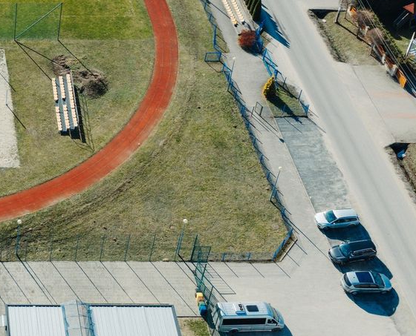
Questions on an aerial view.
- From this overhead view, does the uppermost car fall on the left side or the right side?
right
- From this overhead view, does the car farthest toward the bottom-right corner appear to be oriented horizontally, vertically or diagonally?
horizontally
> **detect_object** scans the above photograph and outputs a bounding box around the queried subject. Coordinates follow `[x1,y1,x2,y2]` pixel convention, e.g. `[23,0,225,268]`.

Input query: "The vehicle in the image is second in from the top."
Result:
[326,238,384,265]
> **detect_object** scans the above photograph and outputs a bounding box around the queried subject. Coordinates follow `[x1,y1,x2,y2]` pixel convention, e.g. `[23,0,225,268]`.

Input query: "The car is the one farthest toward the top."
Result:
[314,204,367,227]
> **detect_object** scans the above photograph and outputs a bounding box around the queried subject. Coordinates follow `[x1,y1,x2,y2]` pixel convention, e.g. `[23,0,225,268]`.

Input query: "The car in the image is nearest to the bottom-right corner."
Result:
[341,269,396,295]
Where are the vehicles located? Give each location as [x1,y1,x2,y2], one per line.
[326,238,384,265]
[341,269,396,295]
[216,301,288,336]
[314,204,367,227]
